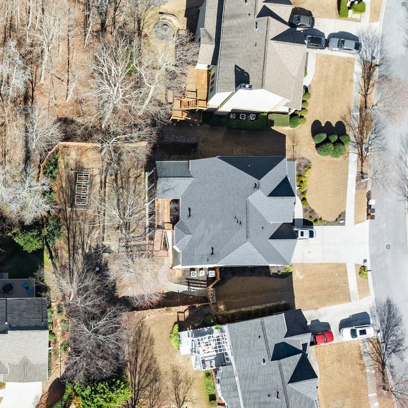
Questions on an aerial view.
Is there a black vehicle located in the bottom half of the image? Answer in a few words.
No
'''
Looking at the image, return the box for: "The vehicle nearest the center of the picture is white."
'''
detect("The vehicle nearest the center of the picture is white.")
[295,225,317,240]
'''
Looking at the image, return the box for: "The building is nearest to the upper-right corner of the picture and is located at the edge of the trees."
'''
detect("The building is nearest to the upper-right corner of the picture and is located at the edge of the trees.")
[171,0,307,123]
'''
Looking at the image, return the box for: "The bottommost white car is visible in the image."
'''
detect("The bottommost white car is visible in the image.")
[339,325,374,342]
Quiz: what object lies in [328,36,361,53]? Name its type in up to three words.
car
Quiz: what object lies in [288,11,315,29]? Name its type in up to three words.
car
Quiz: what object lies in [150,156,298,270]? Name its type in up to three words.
house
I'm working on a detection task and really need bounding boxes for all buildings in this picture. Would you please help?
[150,156,298,270]
[179,309,319,408]
[0,273,48,382]
[171,0,307,123]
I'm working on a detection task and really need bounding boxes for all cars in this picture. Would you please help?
[295,225,317,240]
[305,32,329,50]
[308,330,334,347]
[328,36,361,53]
[288,11,315,29]
[339,325,374,342]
